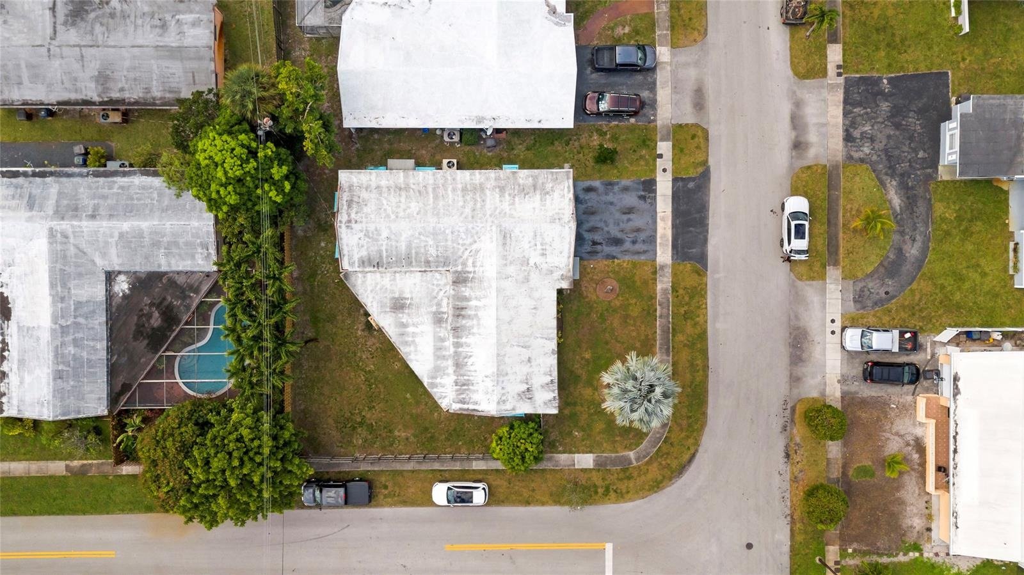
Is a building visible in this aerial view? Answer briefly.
Yes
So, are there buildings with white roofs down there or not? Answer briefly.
Yes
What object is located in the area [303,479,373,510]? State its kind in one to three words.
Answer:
truck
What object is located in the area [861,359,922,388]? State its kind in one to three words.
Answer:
car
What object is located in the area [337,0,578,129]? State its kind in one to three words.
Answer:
house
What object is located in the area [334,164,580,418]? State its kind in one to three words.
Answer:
house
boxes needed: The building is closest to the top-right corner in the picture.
[941,94,1024,181]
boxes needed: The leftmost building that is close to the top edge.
[0,0,239,108]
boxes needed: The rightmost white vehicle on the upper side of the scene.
[779,198,813,259]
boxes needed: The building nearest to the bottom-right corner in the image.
[918,348,1024,564]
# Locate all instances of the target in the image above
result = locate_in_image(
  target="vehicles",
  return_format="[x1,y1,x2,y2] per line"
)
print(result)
[590,41,656,73]
[583,88,641,118]
[861,359,922,388]
[779,198,813,259]
[303,479,373,510]
[433,480,488,510]
[780,0,810,26]
[843,326,920,355]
